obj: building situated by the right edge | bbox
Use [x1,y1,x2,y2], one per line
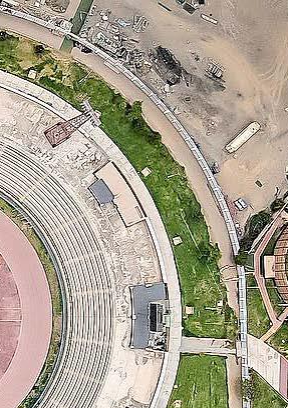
[260,256,275,277]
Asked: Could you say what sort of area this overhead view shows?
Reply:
sports ground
